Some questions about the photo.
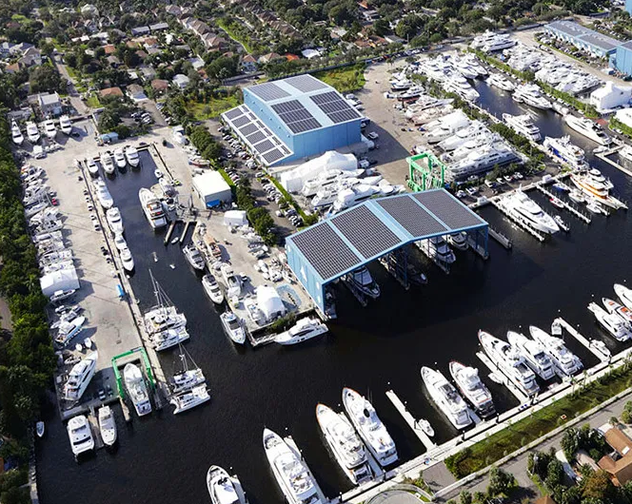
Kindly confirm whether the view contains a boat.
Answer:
Yes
